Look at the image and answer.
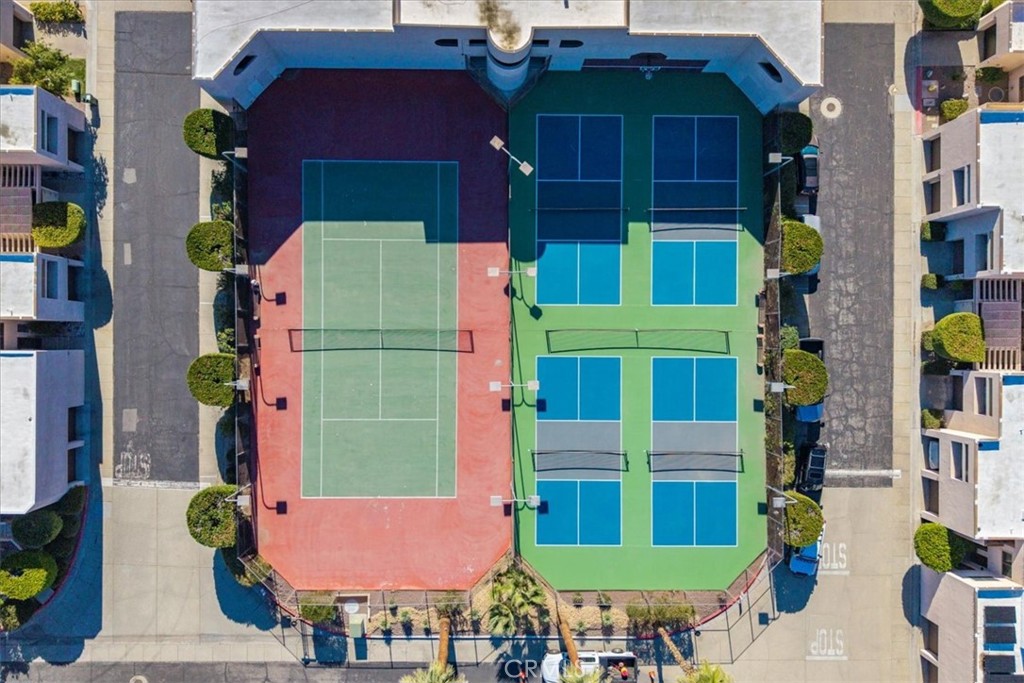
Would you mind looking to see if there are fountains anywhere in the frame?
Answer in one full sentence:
No, the photo shows no fountain.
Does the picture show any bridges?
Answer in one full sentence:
No, I find no bridge anywhere in the image.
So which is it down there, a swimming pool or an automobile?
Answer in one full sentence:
There is an automobile in the scene.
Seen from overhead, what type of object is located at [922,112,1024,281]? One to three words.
house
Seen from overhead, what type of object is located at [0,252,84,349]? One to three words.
house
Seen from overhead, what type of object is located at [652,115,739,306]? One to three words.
sports court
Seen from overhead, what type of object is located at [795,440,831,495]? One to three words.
car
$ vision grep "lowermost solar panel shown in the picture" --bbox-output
[984,656,1017,671]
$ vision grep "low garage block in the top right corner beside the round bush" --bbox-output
[977,5,1024,103]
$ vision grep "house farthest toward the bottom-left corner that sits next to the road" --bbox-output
[0,350,84,514]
